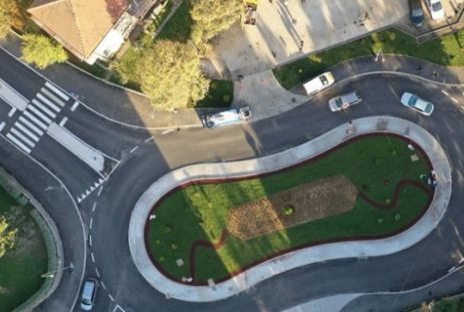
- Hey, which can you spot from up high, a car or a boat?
car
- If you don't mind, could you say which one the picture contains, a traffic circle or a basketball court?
traffic circle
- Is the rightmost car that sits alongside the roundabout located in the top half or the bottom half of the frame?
top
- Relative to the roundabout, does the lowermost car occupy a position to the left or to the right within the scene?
left of it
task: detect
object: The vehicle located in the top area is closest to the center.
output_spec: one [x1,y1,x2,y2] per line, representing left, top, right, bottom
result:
[201,102,254,131]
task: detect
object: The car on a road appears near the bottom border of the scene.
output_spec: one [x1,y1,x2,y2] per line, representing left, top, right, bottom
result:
[79,276,100,312]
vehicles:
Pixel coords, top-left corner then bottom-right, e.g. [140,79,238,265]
[243,0,262,26]
[399,92,435,117]
[79,276,100,312]
[425,0,444,23]
[327,91,362,113]
[407,0,425,28]
[201,102,254,131]
[300,69,337,95]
